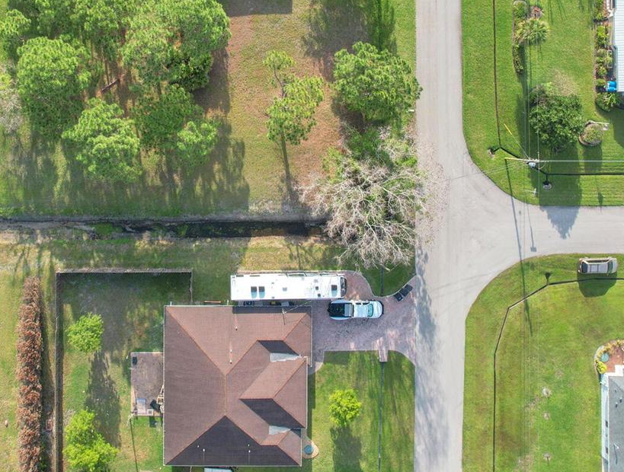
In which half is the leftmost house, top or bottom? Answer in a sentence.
The leftmost house is in the bottom half of the image.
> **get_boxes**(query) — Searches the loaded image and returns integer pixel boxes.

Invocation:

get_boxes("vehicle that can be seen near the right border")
[576,256,614,274]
